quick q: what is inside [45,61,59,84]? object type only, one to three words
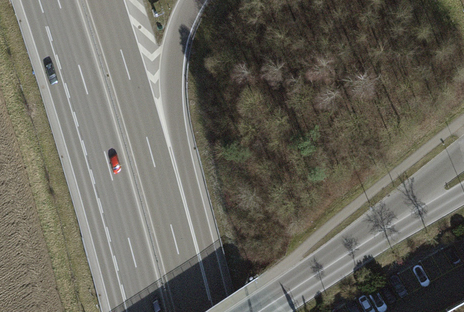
car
